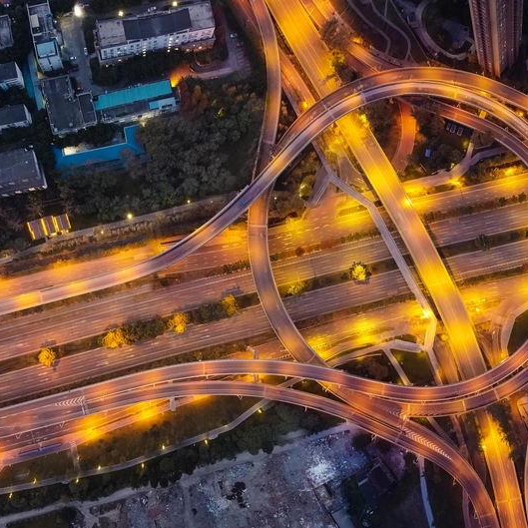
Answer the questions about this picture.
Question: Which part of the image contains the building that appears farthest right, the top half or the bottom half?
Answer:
top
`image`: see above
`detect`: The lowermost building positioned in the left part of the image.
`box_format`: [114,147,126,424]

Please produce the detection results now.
[27,215,74,240]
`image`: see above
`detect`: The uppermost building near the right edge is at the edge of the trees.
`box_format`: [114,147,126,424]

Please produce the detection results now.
[475,0,523,75]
